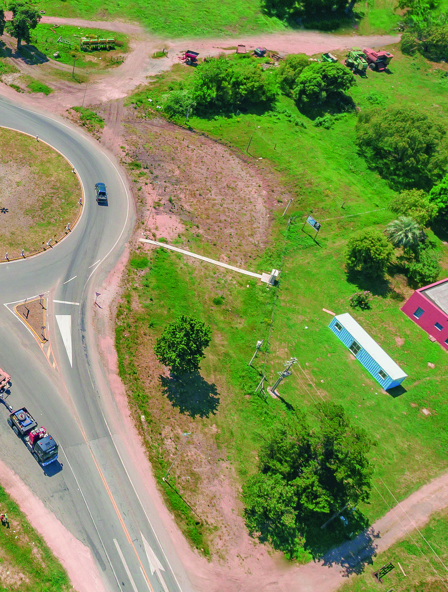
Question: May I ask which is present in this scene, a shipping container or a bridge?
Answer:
shipping container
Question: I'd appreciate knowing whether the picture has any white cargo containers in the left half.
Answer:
No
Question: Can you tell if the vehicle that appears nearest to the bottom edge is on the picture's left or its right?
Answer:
left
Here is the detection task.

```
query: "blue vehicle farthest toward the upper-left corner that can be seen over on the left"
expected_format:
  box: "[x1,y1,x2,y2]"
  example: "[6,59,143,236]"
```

[96,181,109,203]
